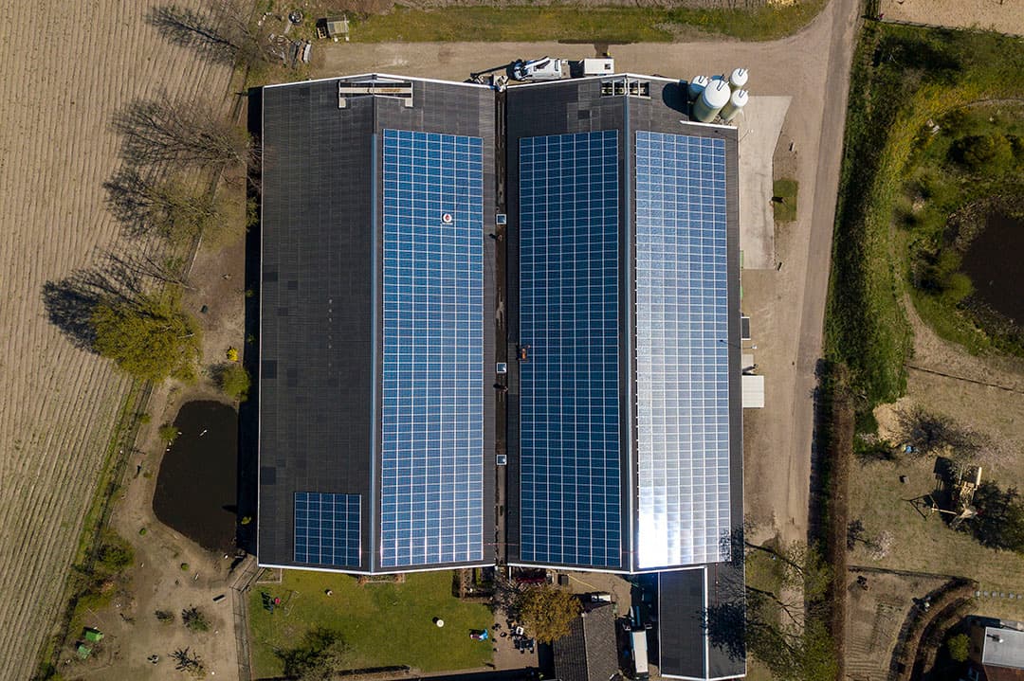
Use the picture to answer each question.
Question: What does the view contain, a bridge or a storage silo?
storage silo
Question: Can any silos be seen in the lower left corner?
No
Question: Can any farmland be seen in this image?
Yes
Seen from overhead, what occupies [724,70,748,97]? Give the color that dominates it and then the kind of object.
white silo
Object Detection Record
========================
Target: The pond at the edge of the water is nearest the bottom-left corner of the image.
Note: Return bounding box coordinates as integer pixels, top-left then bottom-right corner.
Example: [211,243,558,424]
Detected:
[153,398,240,553]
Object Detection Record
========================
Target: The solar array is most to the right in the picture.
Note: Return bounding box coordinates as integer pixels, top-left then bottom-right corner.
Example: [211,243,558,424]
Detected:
[635,131,732,568]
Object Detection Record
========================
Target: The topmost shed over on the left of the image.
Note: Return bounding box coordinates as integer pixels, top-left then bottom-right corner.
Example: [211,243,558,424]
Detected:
[324,14,347,43]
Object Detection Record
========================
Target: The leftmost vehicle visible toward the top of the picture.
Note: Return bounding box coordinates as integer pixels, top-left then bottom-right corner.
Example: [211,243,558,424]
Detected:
[471,57,567,82]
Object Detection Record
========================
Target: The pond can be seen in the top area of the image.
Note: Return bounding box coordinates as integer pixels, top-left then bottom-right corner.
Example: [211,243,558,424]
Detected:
[963,210,1024,333]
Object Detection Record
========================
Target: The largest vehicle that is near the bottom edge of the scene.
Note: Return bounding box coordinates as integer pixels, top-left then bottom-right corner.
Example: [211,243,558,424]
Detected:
[623,618,653,677]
